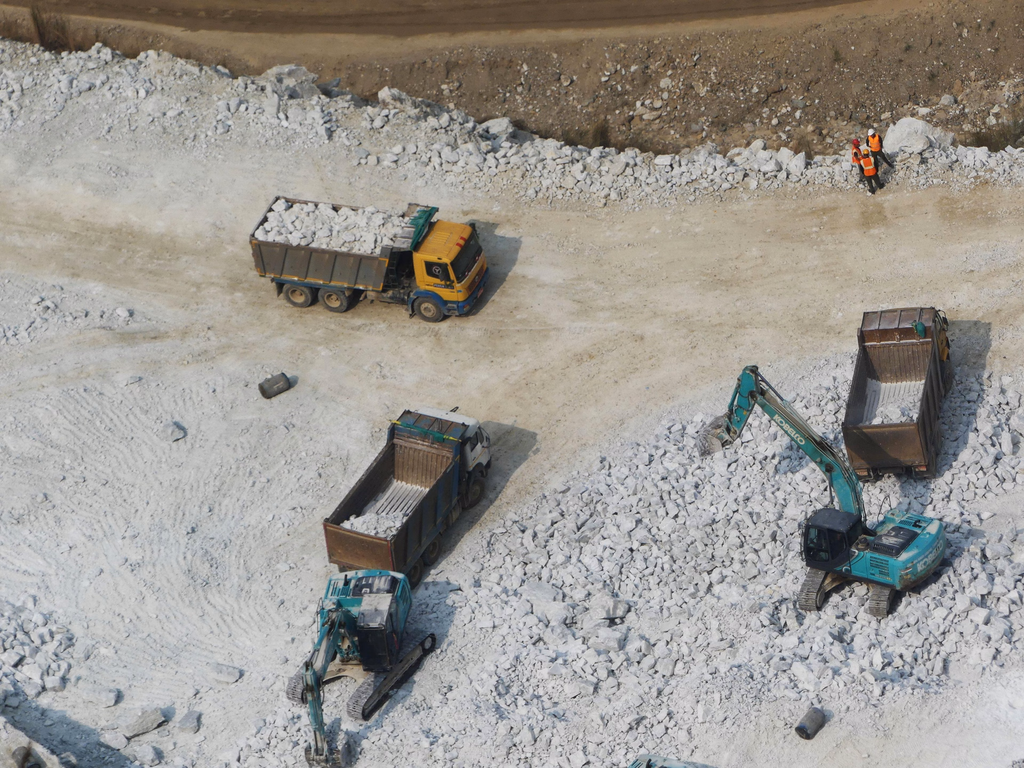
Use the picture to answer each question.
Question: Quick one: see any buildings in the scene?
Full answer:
No, I find no building anywhere in the image.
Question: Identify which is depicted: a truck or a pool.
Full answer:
I can see a truck in this picture.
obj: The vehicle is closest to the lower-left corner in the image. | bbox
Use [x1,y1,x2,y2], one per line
[282,581,438,768]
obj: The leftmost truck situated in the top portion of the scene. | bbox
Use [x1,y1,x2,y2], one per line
[249,195,491,325]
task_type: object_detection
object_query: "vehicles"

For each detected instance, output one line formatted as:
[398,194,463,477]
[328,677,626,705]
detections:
[249,195,491,325]
[317,405,498,588]
[839,304,956,486]
[282,581,438,768]
[624,756,705,768]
